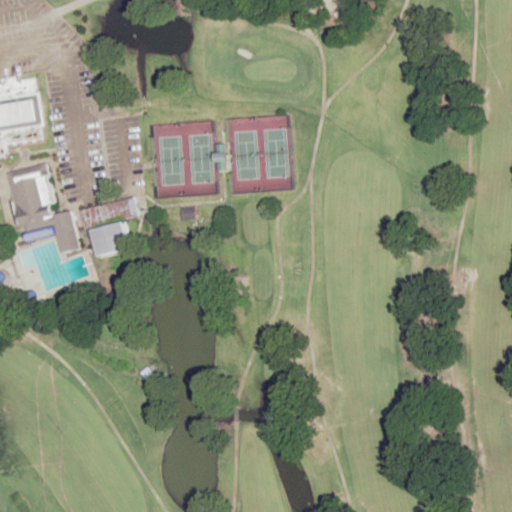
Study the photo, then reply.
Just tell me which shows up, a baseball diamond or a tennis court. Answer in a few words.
tennis court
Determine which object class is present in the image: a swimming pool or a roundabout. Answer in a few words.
swimming pool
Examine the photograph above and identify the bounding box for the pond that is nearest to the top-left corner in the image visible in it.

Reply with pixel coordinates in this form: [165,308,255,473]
[102,0,192,96]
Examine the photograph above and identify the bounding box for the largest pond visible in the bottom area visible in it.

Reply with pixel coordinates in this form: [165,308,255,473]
[146,236,218,510]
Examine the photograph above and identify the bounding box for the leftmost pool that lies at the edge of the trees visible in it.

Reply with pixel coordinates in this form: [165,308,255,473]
[19,240,90,292]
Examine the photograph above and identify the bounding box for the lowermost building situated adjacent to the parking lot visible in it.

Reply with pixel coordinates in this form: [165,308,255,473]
[88,221,128,257]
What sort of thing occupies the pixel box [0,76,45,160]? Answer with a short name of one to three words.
building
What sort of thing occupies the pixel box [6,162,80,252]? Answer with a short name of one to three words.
building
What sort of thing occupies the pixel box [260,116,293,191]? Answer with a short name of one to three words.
tennis court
